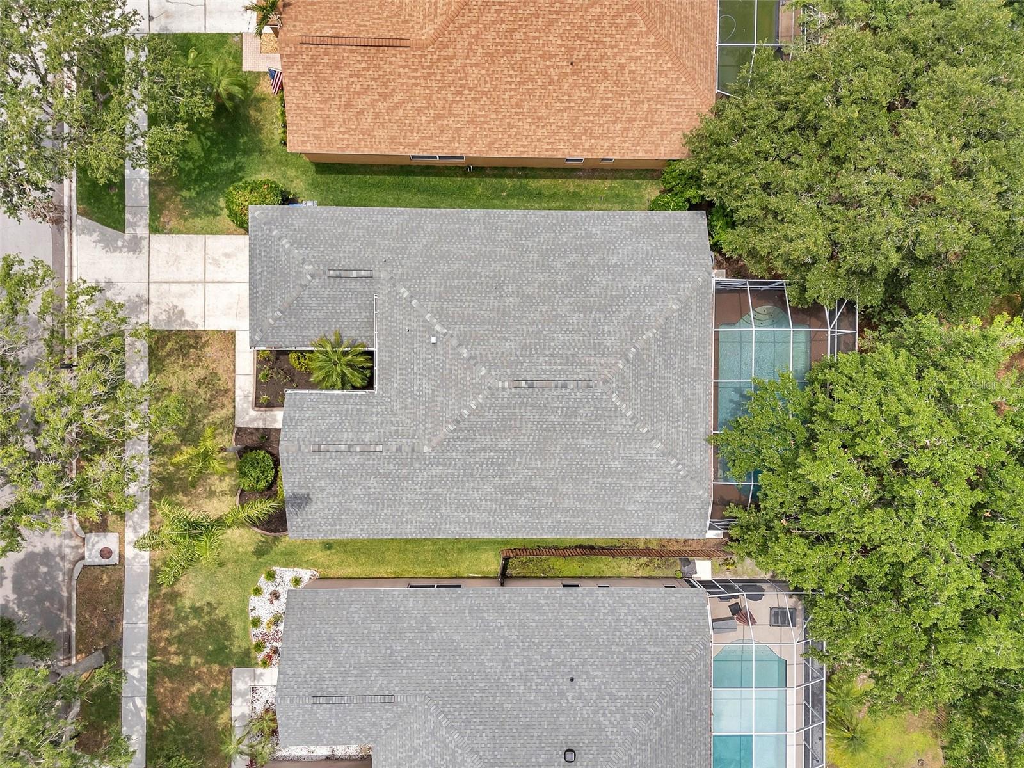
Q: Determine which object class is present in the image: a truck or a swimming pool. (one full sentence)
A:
It is a swimming pool that can be seen here.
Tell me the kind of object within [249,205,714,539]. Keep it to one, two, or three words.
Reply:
house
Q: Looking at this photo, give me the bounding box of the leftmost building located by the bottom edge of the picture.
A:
[277,579,712,768]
